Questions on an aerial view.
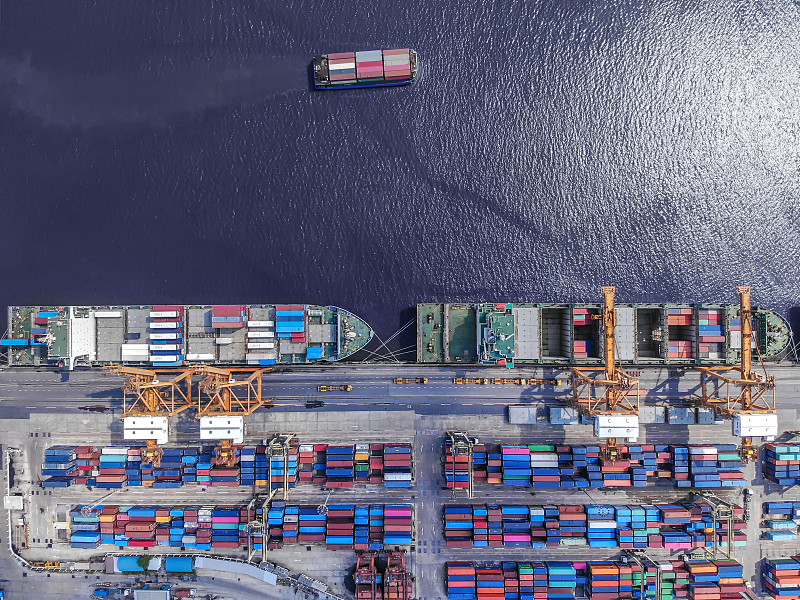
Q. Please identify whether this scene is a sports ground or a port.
port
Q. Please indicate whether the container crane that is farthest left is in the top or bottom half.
bottom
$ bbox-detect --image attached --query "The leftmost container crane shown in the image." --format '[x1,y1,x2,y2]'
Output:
[101,362,203,470]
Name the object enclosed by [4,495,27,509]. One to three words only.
building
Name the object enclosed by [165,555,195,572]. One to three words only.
building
